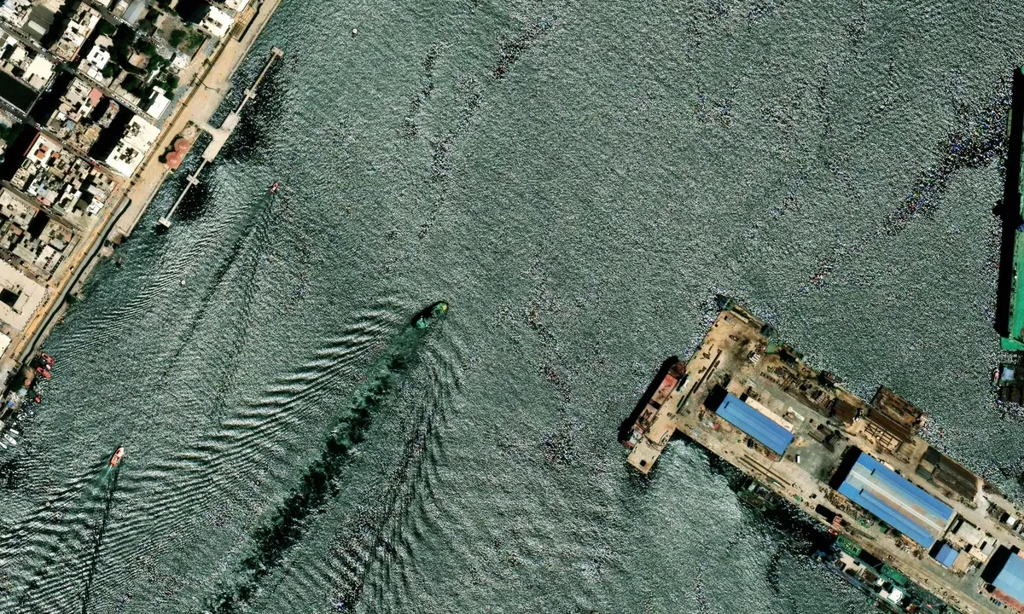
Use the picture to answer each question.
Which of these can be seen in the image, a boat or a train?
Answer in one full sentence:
There is a boat in the scene.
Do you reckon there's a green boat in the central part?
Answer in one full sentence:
Yes, a green boat shows up in the central part.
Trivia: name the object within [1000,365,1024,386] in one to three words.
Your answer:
ship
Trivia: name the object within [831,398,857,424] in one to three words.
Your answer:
shed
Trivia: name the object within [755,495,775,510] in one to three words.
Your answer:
boat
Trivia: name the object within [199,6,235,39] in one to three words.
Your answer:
building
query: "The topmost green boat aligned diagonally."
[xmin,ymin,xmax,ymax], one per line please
[415,302,448,330]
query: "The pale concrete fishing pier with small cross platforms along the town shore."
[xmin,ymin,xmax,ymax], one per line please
[159,47,284,227]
